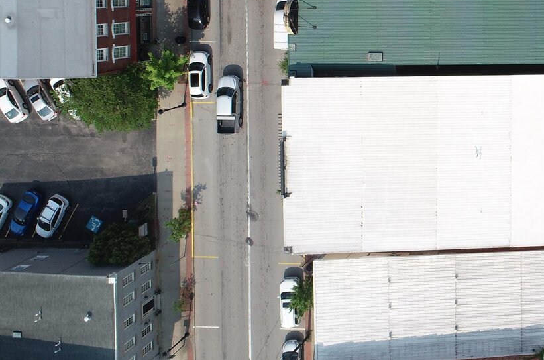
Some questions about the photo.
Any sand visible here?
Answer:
No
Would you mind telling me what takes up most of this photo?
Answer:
buildings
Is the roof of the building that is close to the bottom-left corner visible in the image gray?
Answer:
Yes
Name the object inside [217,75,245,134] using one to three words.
truck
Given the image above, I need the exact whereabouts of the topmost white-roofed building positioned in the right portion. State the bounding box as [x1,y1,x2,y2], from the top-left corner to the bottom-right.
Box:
[275,70,544,255]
